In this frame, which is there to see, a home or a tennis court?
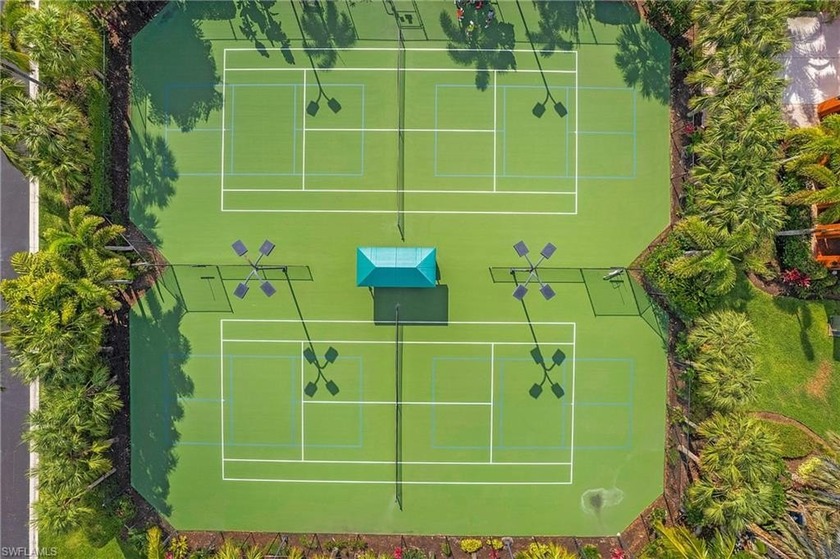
tennis court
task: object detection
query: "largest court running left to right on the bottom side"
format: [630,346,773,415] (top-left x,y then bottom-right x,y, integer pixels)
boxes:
[130,264,668,534]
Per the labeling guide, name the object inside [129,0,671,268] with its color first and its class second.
green tennis court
